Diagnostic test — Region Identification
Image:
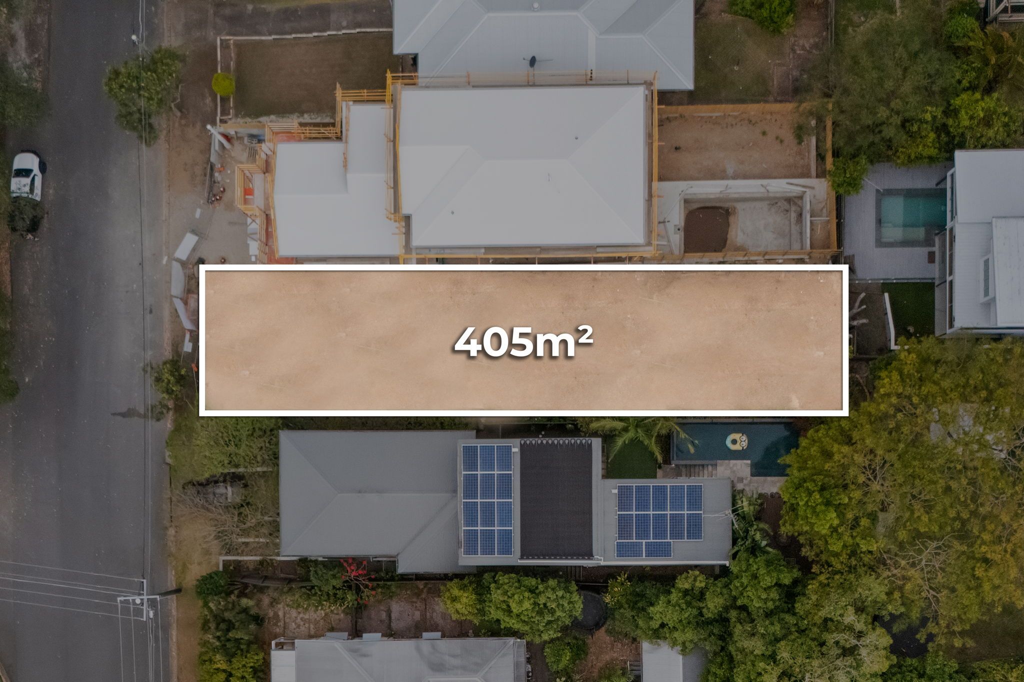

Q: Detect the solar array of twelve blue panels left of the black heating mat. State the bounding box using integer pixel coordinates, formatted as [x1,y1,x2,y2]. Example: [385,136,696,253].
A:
[460,445,514,556]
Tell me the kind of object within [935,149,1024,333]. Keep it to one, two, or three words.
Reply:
house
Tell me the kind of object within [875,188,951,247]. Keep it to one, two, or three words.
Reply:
swimming pool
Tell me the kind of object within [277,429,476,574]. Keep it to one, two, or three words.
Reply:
house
